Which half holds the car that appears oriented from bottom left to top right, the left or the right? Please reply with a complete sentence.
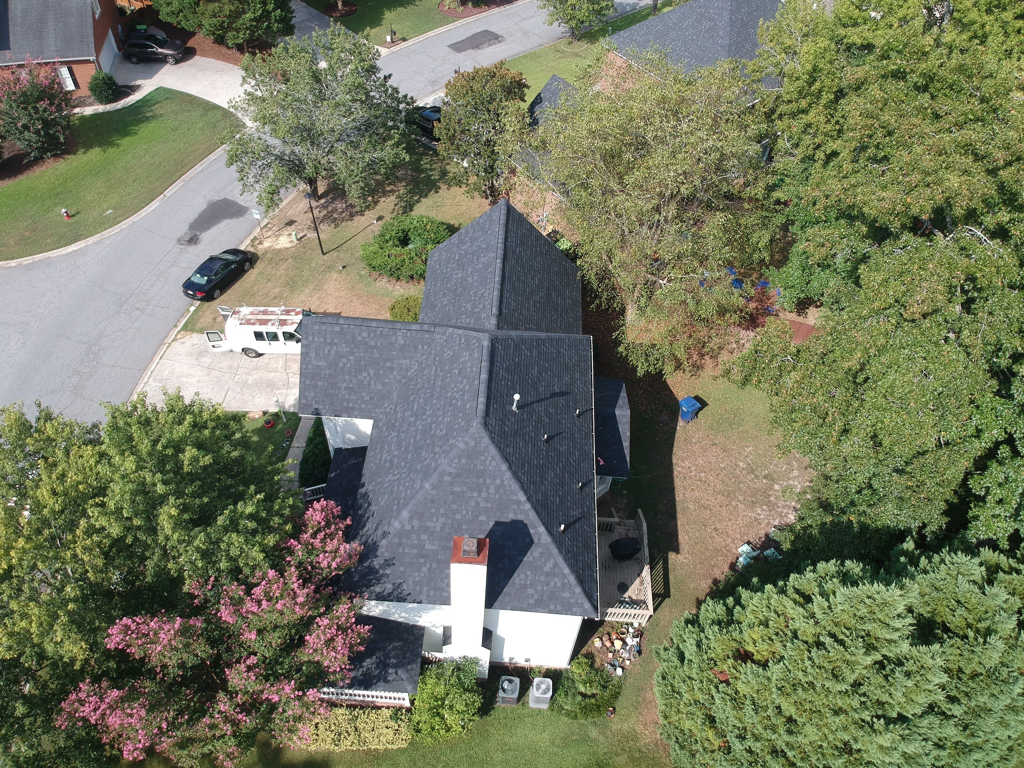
It is on the left.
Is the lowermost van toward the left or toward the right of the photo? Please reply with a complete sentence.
It is on the left.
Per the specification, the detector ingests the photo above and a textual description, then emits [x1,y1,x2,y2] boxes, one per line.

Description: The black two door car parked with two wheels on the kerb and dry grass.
[183,246,253,302]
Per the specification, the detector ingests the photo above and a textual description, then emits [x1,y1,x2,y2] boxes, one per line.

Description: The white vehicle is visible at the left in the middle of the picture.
[205,303,306,358]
